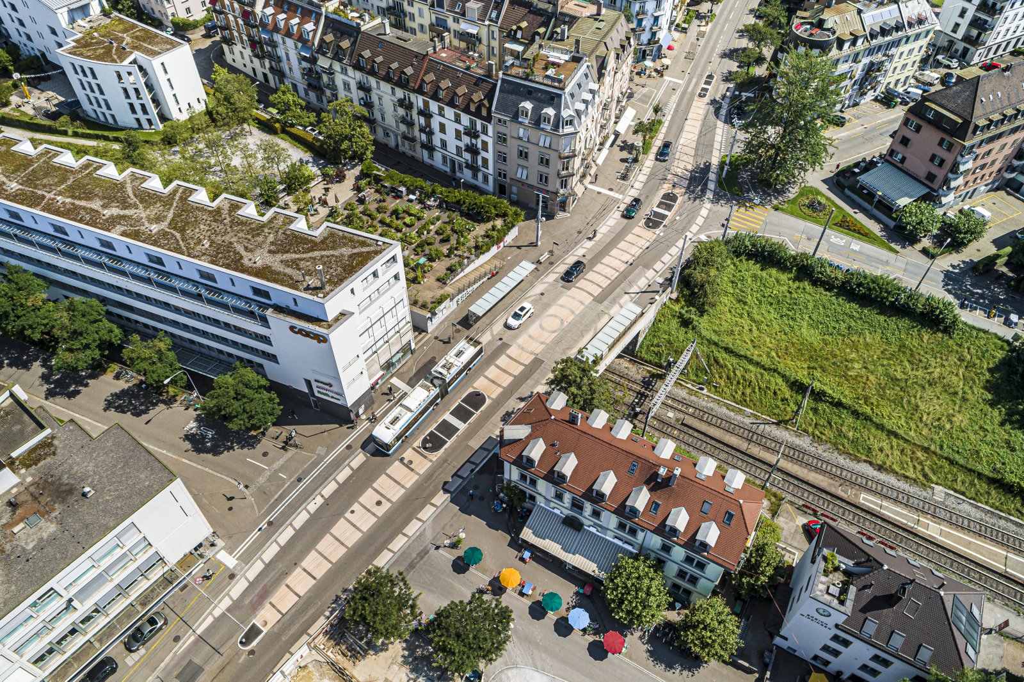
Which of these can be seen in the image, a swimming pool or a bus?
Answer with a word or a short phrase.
bus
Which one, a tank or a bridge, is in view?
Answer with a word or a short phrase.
bridge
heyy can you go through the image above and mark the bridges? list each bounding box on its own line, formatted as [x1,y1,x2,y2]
[588,284,678,376]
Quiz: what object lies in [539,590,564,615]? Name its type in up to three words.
umbrella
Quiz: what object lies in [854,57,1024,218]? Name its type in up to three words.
house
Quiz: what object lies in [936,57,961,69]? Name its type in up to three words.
vehicle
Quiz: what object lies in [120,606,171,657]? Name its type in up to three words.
car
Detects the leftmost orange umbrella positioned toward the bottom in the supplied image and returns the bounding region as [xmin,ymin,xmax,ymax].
[497,566,523,592]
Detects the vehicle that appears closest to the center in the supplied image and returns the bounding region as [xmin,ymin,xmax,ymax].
[505,300,535,327]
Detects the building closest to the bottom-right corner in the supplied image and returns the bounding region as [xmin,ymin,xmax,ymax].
[781,512,989,682]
